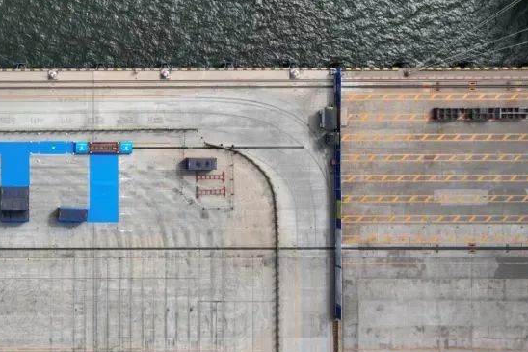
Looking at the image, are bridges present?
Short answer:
No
